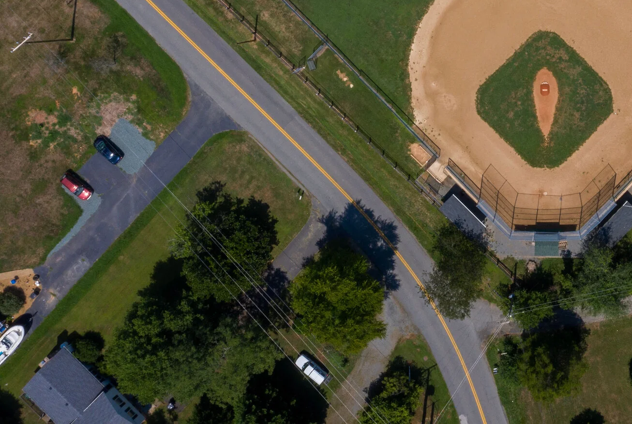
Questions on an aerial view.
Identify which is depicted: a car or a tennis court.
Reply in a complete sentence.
The image shows a car.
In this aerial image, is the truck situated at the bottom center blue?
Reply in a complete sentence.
No, the truck situated at the bottom center is white.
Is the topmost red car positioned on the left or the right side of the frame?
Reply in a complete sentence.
The topmost red car is on the left side of the image.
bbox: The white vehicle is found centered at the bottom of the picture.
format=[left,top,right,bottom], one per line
[292,355,331,391]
